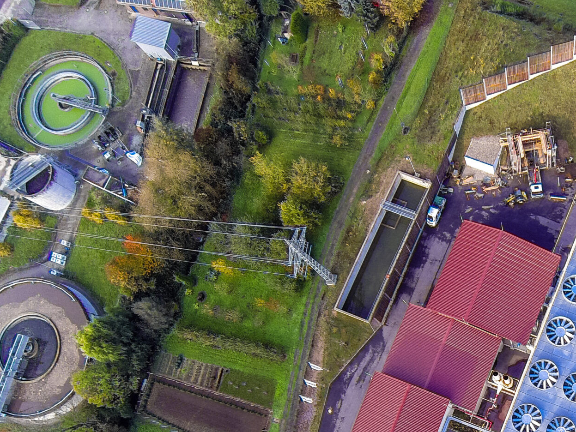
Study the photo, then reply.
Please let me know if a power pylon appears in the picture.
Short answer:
Yes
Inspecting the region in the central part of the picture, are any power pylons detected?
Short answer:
Yes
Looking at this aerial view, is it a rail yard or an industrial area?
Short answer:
industrial area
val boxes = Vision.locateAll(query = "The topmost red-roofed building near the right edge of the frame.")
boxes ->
[425,216,561,348]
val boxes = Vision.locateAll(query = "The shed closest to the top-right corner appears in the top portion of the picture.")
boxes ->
[464,140,501,172]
